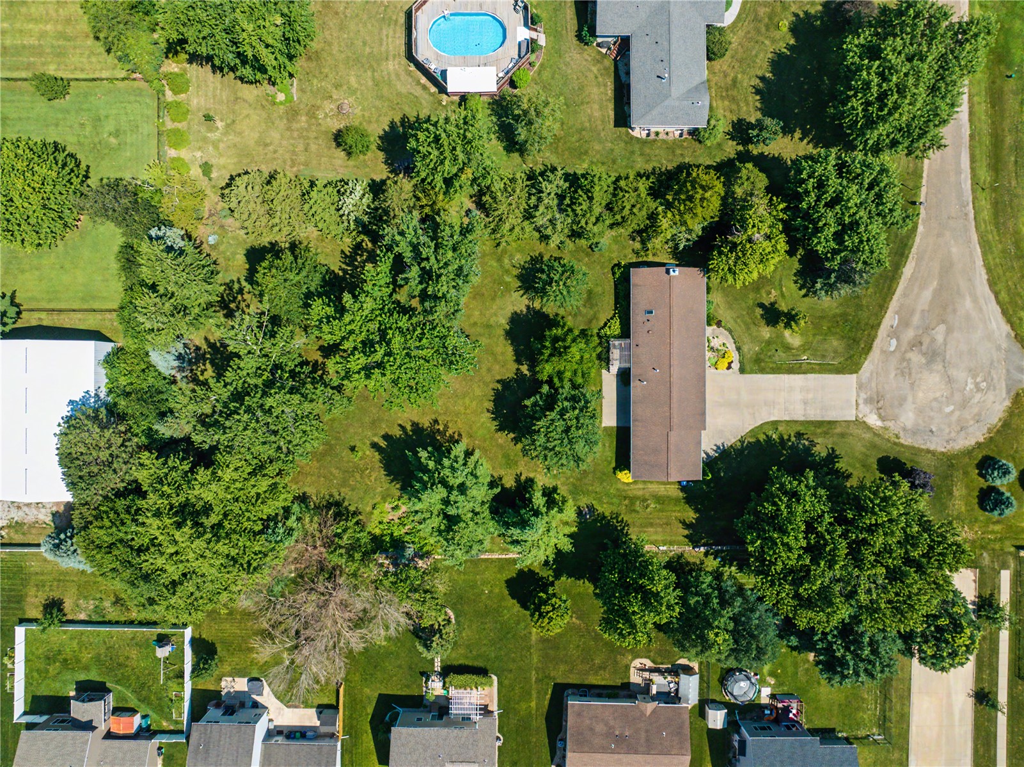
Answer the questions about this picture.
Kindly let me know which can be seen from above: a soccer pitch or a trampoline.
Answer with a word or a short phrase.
trampoline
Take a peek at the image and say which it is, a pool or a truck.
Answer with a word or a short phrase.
pool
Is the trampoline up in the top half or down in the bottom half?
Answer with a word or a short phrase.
bottom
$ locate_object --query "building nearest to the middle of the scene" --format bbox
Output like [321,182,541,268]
[629,265,707,482]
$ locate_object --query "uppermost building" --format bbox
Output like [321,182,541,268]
[596,0,728,132]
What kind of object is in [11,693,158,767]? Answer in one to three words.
house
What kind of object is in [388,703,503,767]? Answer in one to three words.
house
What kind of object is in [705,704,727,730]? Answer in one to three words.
shed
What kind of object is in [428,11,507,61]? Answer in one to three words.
swimming pool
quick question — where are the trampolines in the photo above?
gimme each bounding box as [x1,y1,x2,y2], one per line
[721,667,761,708]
